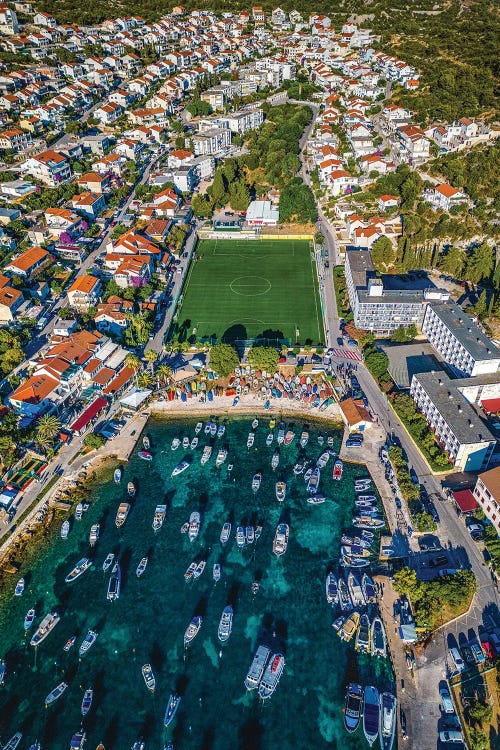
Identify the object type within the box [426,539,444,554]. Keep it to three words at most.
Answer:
car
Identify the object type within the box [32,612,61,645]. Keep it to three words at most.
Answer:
boat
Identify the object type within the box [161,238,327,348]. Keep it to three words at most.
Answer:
soccer field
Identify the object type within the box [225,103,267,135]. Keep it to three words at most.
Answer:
building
